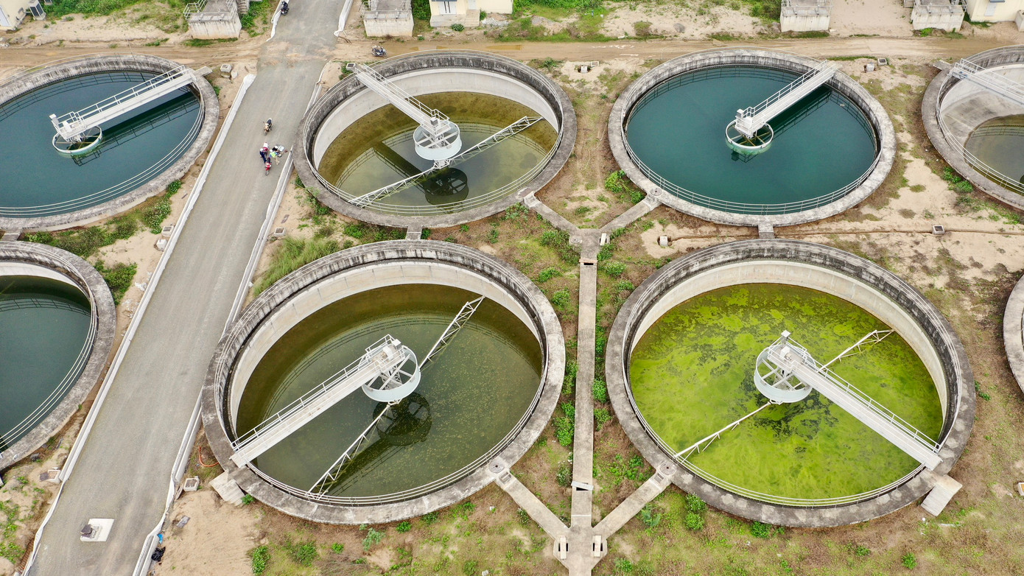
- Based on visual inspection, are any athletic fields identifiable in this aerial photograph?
No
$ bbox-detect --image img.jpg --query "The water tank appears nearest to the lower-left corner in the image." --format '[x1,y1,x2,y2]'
[0,242,117,475]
